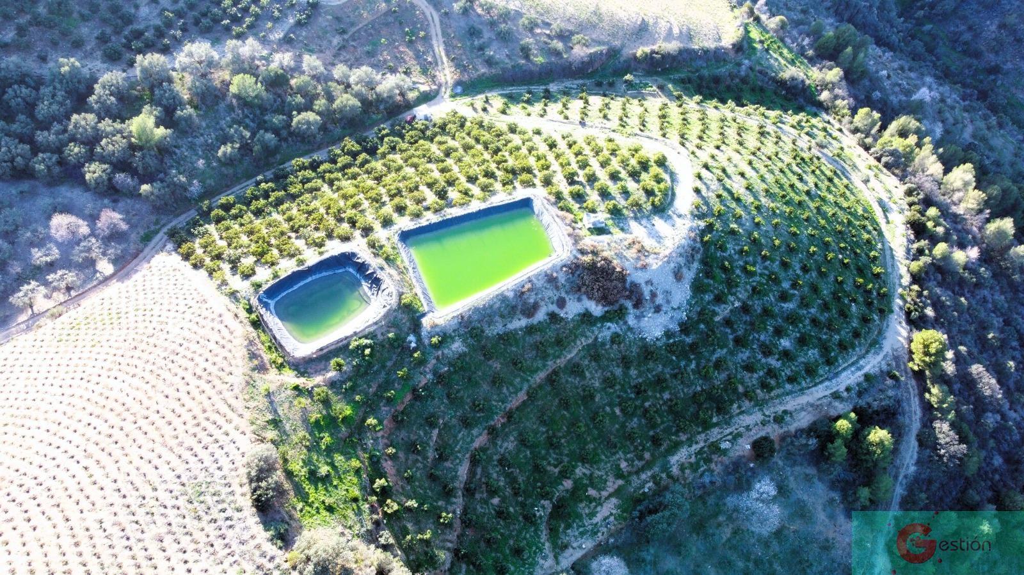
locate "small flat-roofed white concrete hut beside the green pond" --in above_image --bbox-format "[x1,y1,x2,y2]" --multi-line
[584,214,607,231]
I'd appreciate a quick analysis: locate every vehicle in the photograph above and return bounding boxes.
[402,113,415,123]
[414,109,433,120]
